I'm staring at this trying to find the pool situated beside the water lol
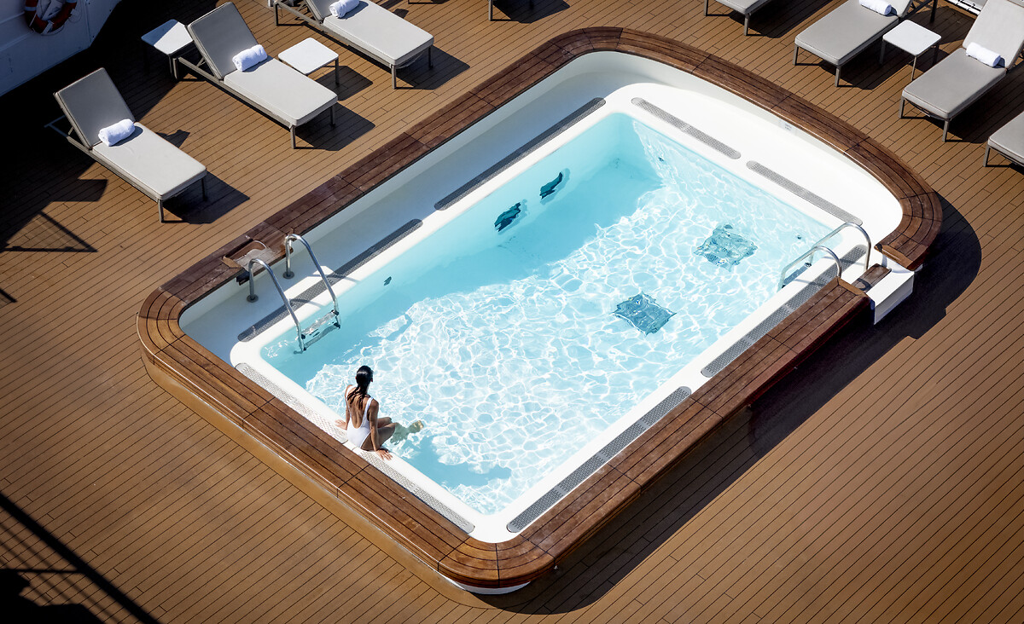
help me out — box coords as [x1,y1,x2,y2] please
[137,24,952,612]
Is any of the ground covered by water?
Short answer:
Yes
